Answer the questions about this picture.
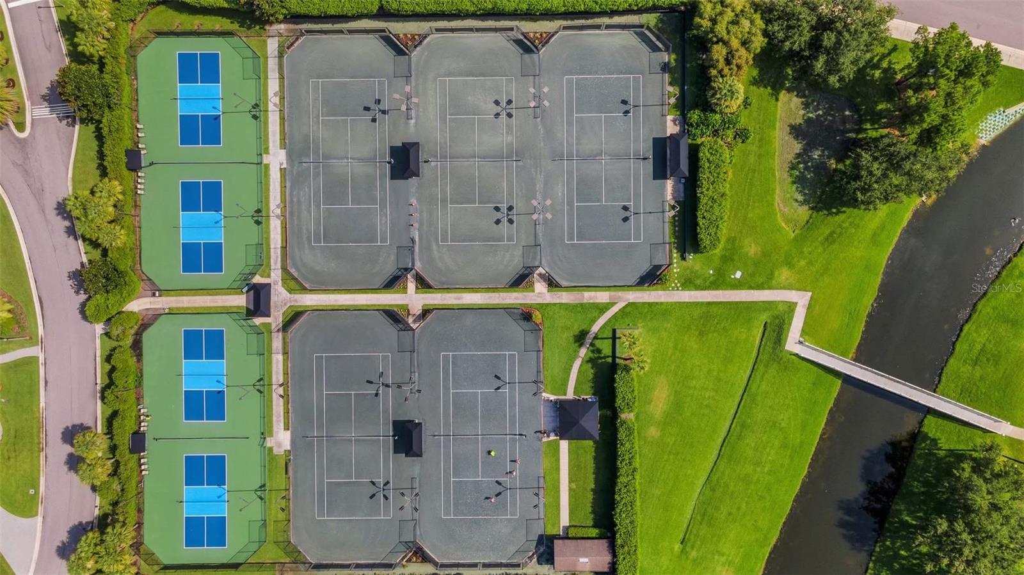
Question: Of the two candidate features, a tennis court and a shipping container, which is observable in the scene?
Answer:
tennis court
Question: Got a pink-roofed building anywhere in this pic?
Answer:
No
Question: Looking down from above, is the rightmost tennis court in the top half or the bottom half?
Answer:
top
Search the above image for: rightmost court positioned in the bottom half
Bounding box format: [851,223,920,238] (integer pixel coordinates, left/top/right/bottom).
[415,307,545,563]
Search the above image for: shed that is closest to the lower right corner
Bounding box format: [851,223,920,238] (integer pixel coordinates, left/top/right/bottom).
[554,535,613,572]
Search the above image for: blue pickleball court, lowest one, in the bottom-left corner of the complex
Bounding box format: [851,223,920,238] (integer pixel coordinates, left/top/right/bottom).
[143,439,267,564]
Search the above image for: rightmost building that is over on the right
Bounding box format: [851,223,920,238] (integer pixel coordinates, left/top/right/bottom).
[665,133,689,178]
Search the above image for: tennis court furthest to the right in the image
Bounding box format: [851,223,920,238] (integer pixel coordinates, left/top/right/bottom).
[540,29,670,287]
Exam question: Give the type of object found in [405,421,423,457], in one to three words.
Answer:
building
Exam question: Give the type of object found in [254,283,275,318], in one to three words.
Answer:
building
